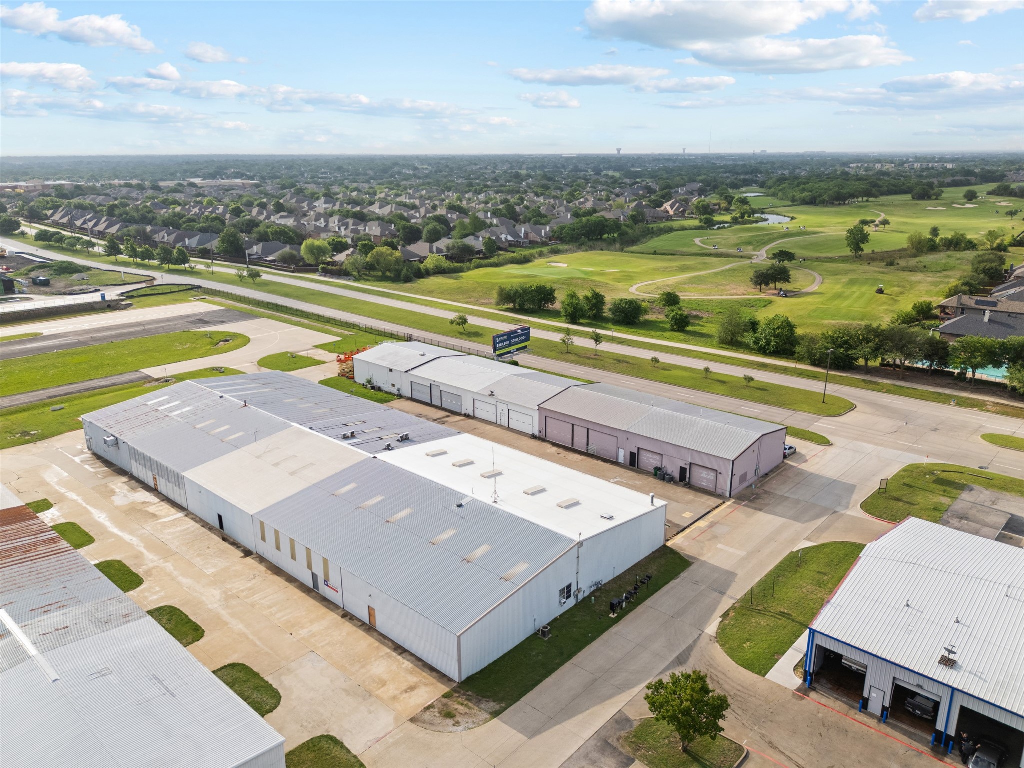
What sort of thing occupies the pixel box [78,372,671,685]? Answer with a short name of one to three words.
warehouse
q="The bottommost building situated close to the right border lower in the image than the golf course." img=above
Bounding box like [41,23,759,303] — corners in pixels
[800,512,1024,768]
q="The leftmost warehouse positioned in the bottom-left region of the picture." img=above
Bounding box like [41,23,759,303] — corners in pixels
[0,488,288,768]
